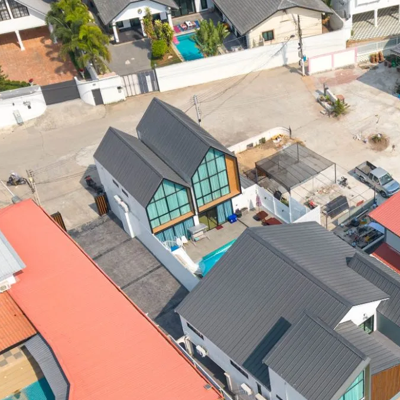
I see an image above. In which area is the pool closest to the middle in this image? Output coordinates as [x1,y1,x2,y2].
[195,219,264,280]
